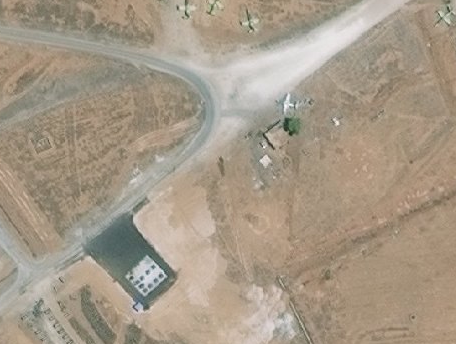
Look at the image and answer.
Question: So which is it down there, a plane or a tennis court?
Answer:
plane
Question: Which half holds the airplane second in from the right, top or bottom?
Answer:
top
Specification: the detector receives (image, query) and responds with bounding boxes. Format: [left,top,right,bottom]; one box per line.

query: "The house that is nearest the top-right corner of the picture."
[265,124,289,149]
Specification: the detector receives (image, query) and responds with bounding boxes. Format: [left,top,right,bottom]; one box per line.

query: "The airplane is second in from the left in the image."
[205,0,225,14]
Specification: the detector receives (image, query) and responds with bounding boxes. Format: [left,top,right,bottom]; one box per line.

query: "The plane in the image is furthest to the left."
[177,0,196,17]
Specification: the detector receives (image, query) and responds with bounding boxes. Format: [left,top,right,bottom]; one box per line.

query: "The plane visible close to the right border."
[435,7,455,27]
